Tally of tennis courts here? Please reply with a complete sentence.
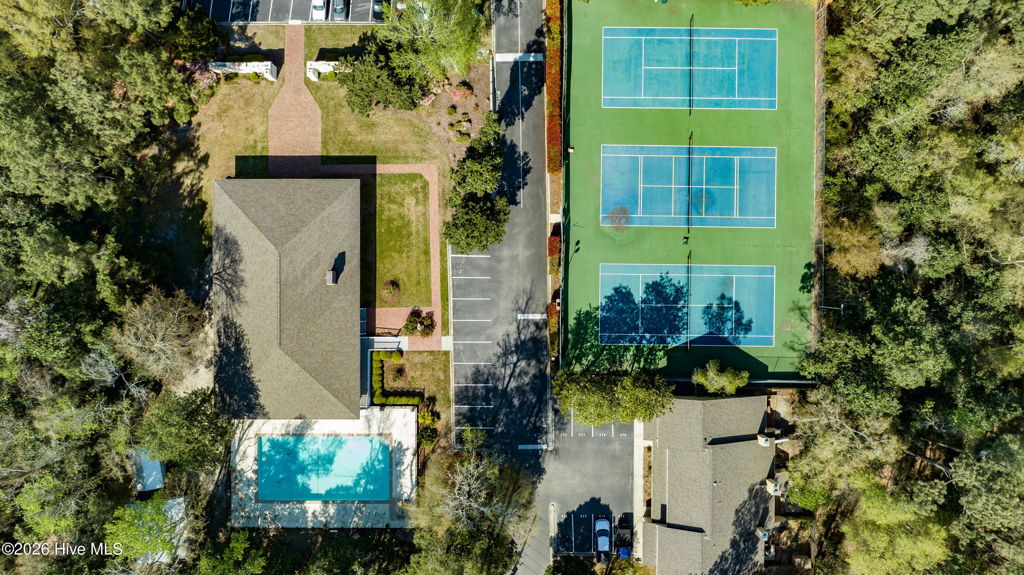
In total, there are 3 tennis courts in the scene.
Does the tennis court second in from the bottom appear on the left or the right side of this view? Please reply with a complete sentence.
The tennis court second in from the bottom sits on the right side.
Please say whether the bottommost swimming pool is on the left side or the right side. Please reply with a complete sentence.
It is on the left.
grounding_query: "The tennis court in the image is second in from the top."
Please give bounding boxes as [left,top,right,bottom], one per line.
[600,137,777,234]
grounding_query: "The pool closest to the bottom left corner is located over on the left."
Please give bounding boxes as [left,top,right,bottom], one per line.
[255,433,393,504]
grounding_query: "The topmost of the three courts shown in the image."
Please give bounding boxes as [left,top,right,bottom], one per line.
[602,17,778,116]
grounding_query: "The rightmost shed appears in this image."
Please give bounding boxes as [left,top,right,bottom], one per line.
[793,554,815,571]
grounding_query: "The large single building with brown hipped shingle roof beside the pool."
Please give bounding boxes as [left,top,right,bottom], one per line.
[212,178,408,419]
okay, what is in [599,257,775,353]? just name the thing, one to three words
tennis court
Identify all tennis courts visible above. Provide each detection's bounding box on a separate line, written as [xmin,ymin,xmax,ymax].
[600,137,777,234]
[602,17,778,116]
[599,257,775,353]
